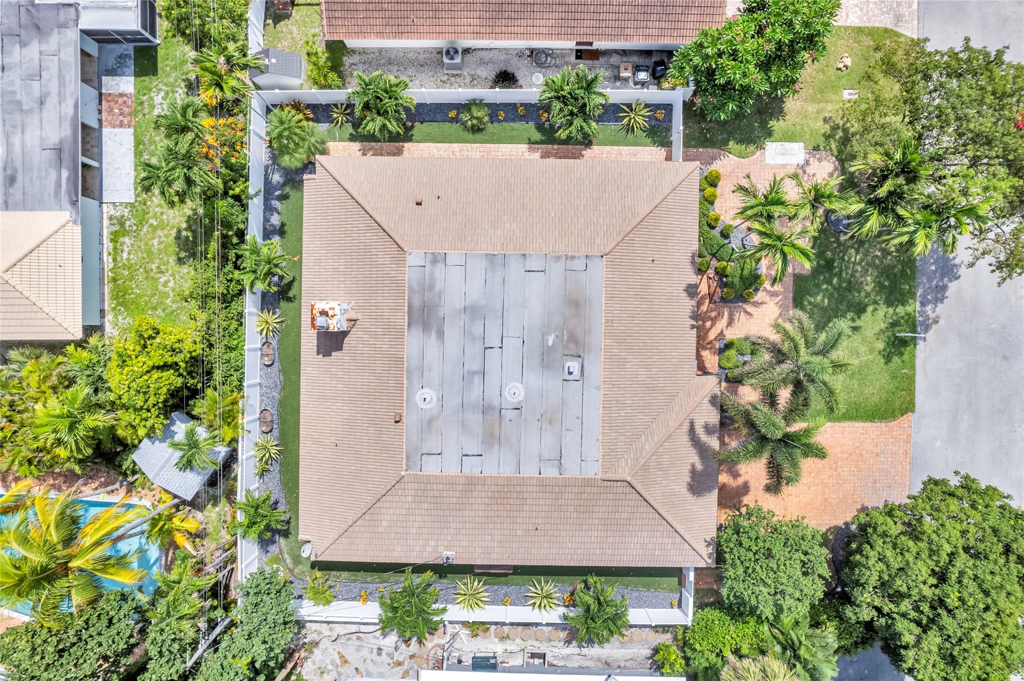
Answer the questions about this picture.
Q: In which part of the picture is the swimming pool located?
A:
bottom left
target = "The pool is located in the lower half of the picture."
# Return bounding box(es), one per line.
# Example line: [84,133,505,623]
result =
[0,491,168,620]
